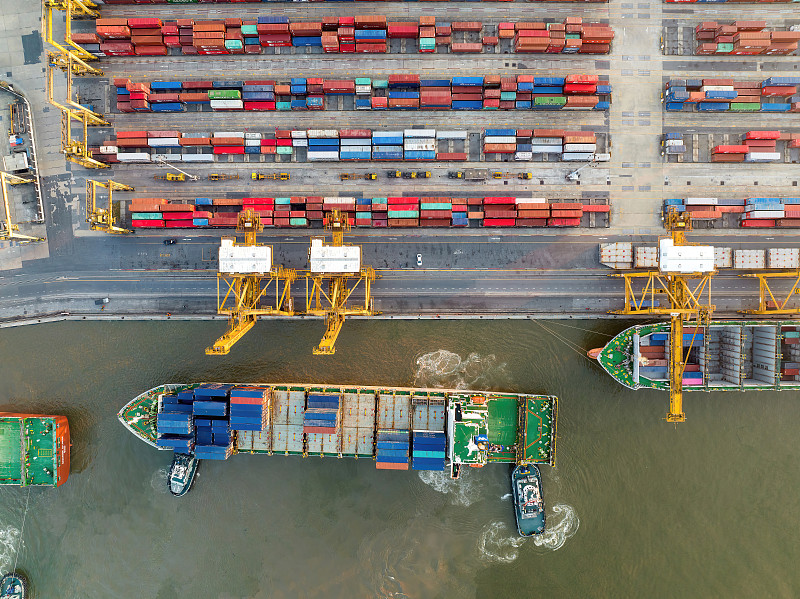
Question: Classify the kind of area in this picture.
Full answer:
This looks like a port.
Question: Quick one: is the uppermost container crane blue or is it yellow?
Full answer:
In this view, the uppermost container crane is yellow.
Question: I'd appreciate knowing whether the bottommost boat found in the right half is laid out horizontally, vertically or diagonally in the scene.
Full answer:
I'd say the bottommost boat found in the right half is aligned vertically in the picture.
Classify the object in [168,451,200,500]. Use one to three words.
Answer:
boat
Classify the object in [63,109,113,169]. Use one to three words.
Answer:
container crane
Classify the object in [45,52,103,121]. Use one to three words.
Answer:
container crane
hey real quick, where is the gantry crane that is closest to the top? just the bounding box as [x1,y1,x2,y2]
[45,0,103,63]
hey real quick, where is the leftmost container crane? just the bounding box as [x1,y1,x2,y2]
[0,166,48,243]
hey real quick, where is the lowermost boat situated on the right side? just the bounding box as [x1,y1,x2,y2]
[512,465,546,538]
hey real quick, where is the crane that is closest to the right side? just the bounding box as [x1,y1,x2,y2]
[745,272,800,316]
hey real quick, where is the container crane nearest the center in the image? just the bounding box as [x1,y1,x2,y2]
[305,205,388,358]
